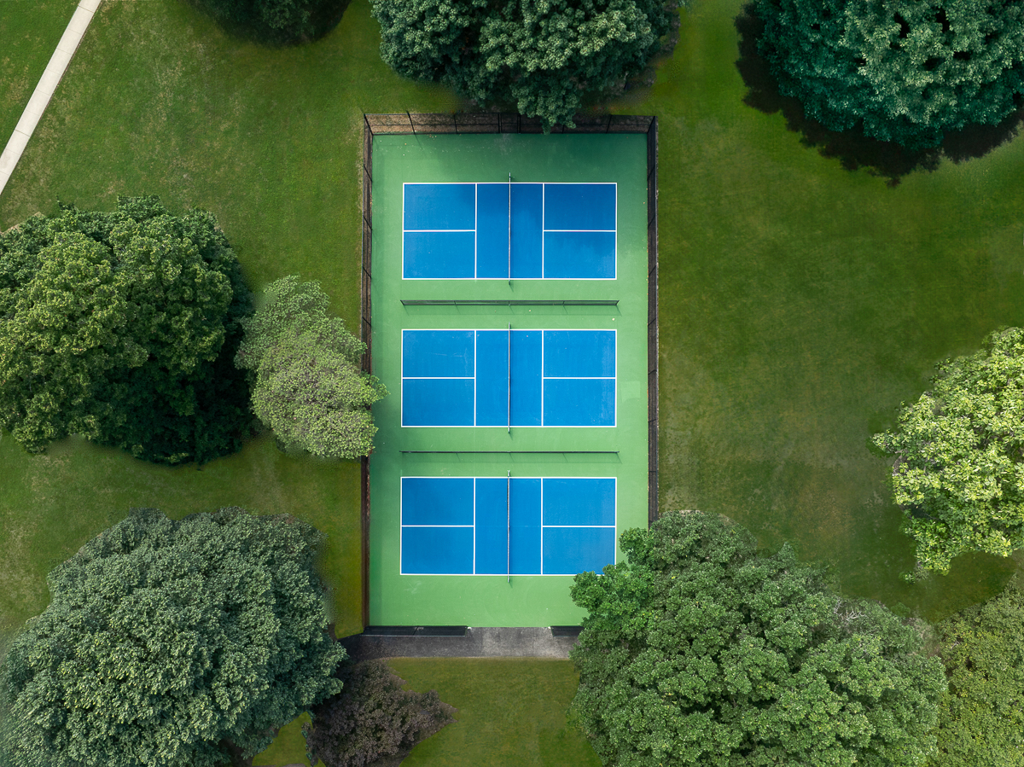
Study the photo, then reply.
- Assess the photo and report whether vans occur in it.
No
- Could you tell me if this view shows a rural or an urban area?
rural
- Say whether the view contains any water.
No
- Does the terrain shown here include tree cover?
Yes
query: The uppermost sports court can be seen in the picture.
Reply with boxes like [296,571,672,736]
[402,182,616,279]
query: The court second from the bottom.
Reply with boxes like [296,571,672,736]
[401,329,616,427]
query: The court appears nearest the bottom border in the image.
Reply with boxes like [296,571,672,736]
[401,477,616,575]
